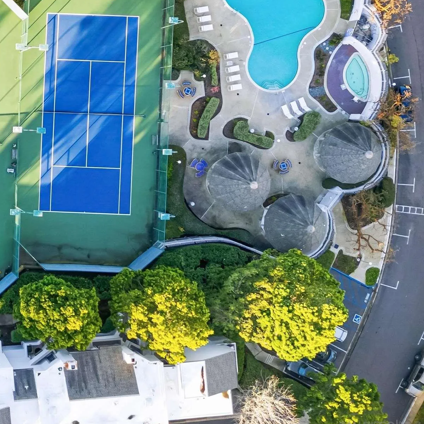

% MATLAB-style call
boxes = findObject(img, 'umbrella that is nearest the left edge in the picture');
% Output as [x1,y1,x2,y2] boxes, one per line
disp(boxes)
[205,151,270,214]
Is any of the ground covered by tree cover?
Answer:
Yes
